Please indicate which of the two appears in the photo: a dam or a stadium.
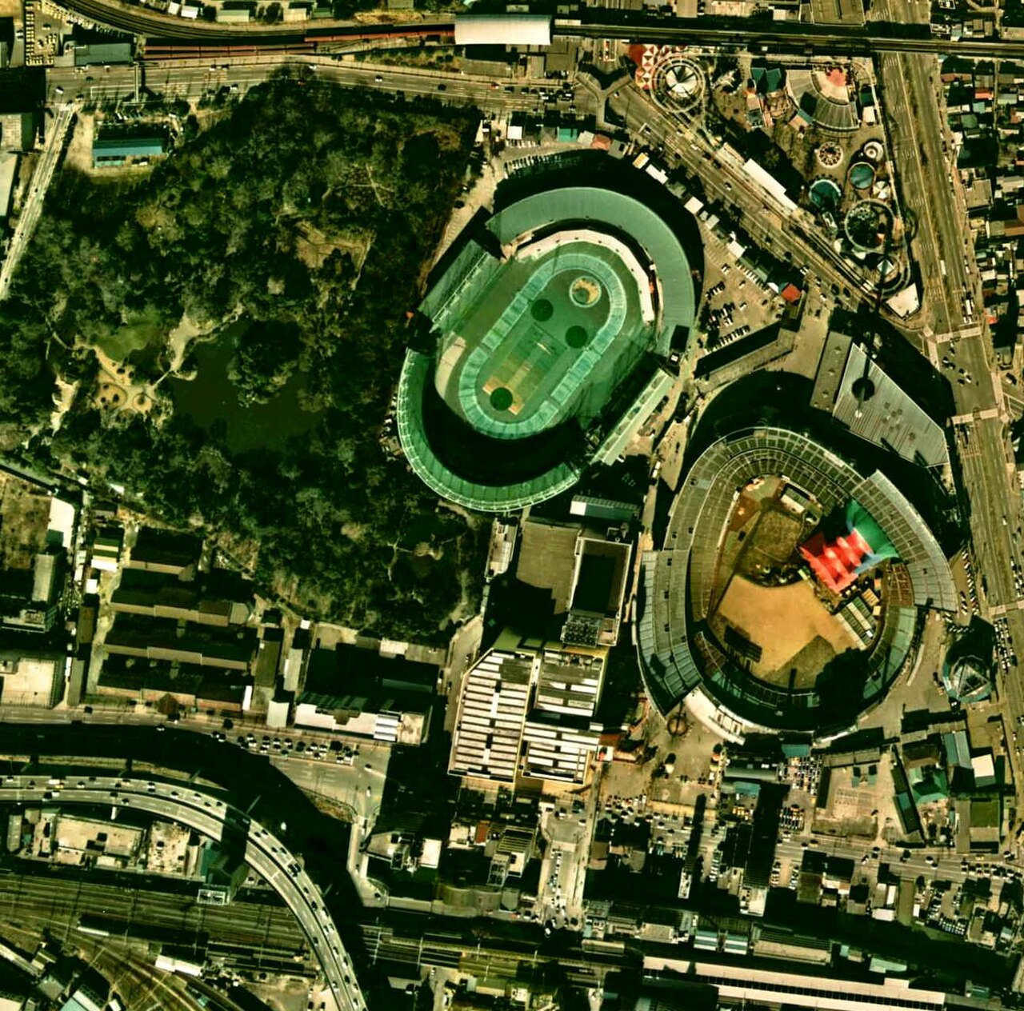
stadium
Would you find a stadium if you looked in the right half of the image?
Yes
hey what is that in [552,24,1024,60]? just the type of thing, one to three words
bridge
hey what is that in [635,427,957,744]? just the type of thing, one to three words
stadium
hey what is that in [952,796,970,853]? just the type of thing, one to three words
building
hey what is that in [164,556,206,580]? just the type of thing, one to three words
house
